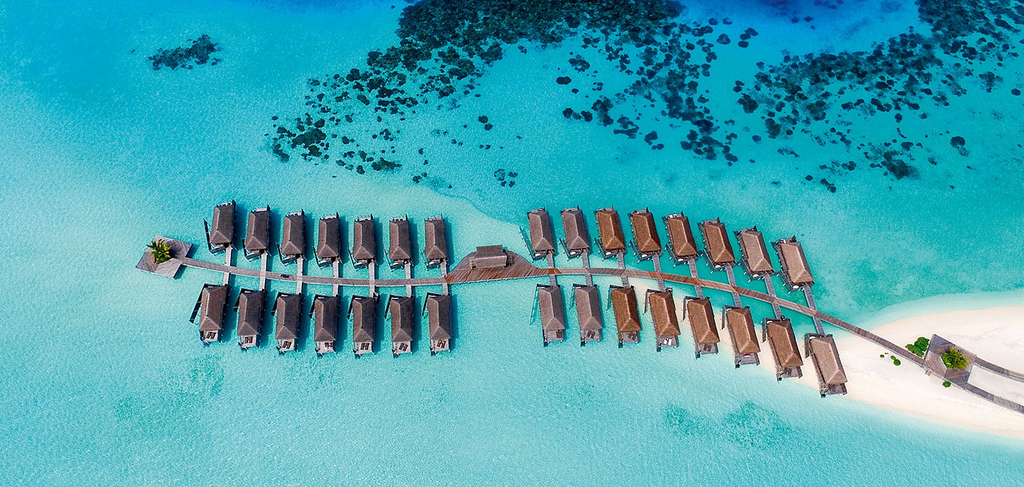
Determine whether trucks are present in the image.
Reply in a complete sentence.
No, I can't see a single truck in this photo.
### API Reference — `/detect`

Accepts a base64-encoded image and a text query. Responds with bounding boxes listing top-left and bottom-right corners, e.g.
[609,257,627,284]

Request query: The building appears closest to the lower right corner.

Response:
[803,332,848,401]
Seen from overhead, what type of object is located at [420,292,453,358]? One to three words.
house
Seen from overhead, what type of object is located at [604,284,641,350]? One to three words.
house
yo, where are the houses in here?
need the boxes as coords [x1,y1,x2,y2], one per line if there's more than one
[346,215,378,272]
[661,210,701,269]
[517,205,557,262]
[627,207,664,264]
[417,214,450,270]
[345,294,379,361]
[604,284,641,350]
[760,317,804,385]
[311,212,344,269]
[240,205,273,261]
[557,204,593,261]
[771,236,817,296]
[189,284,231,350]
[270,291,305,358]
[531,283,566,348]
[720,304,761,371]
[695,216,738,277]
[644,291,682,358]
[567,283,603,348]
[275,209,308,266]
[685,299,725,365]
[382,215,414,271]
[733,225,776,284]
[307,293,342,360]
[592,204,628,261]
[383,294,416,361]
[232,288,268,354]
[803,332,848,401]
[420,292,453,358]
[202,199,238,255]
